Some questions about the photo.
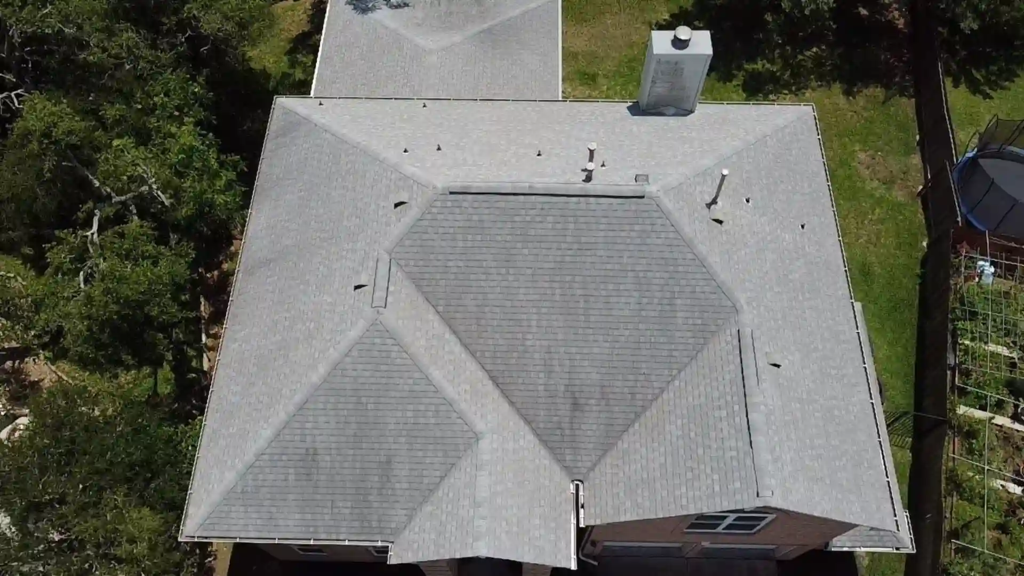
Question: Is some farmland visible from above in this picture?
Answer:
No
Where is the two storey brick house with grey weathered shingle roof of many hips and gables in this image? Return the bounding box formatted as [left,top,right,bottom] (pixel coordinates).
[178,0,920,576]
